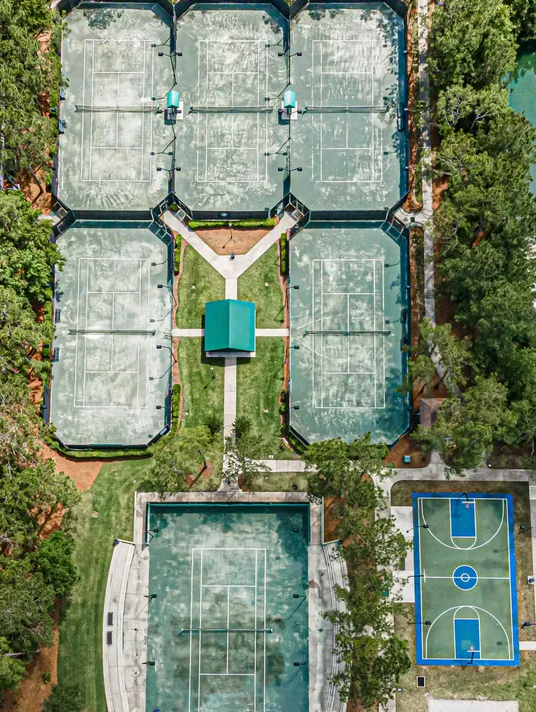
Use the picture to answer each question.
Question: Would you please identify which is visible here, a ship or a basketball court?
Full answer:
The one in the frame is a basketball court.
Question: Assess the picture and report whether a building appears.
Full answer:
Yes, the image includes a building.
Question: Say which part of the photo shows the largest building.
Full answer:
The largest building sits in the center section of the image.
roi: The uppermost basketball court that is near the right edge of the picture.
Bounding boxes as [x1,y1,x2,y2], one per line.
[413,493,519,665]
